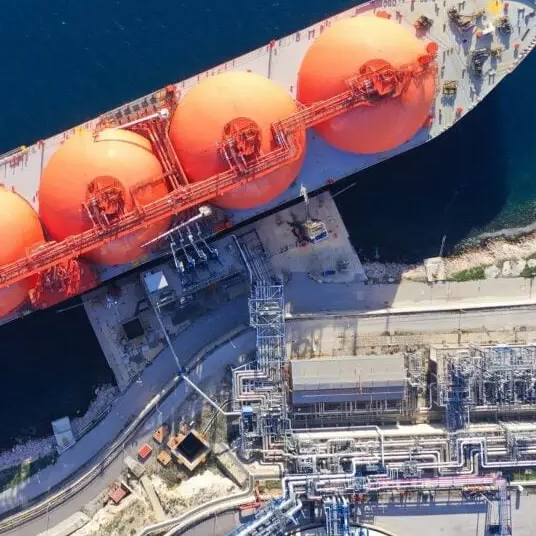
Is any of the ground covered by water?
Yes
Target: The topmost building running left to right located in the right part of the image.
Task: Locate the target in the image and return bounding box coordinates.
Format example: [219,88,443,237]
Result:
[291,355,406,404]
